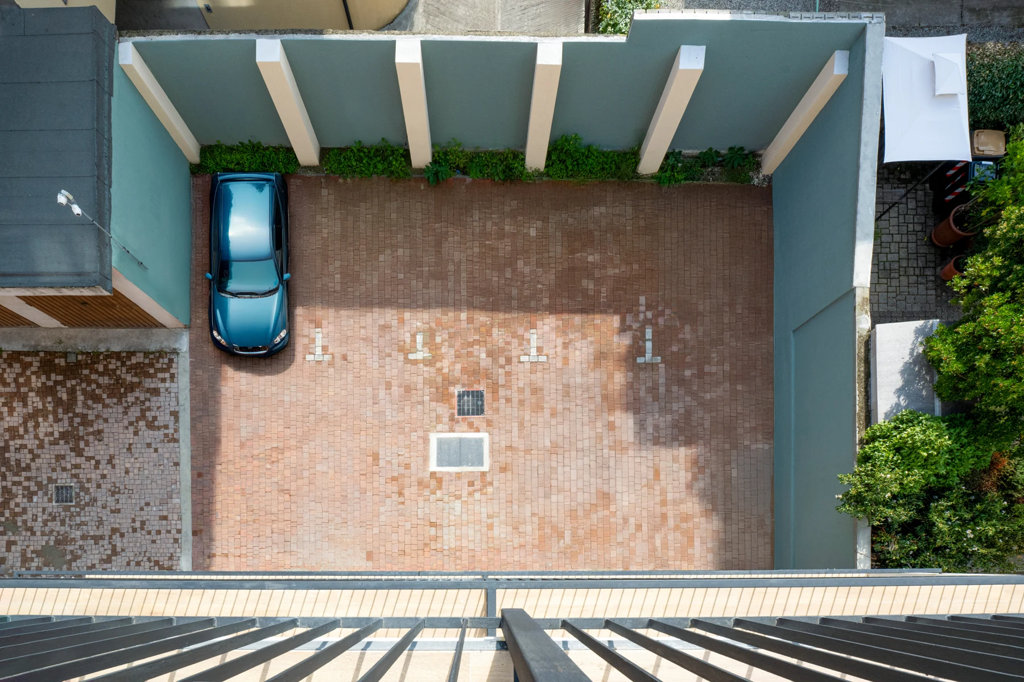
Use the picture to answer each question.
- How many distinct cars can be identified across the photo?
1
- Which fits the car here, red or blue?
blue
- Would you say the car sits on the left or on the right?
left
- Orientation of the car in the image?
up and down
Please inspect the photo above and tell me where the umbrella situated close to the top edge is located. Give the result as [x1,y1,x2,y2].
[873,34,971,233]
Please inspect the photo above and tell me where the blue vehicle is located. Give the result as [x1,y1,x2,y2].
[202,172,291,363]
